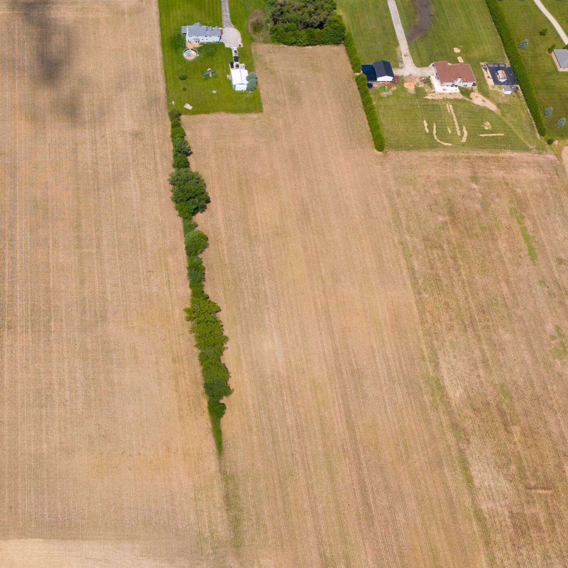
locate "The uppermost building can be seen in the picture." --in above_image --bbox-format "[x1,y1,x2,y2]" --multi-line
[182,19,222,47]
